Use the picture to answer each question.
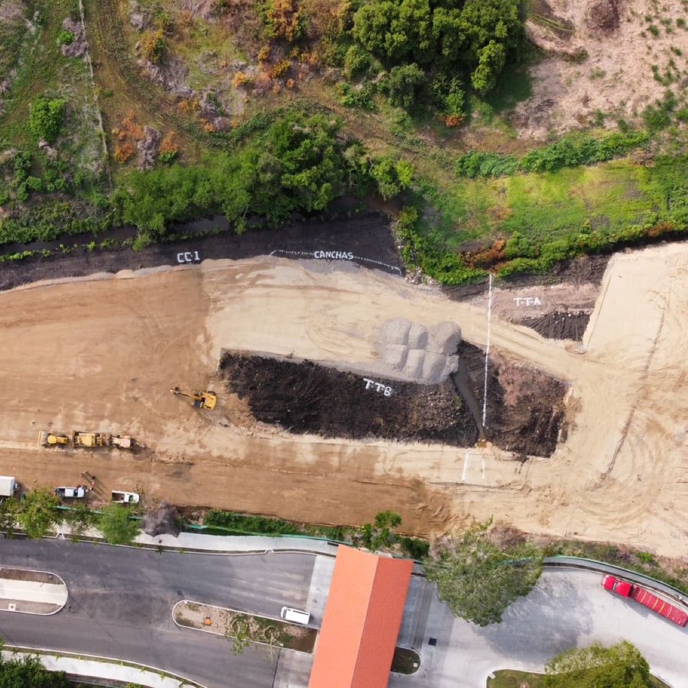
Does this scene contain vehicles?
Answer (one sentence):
Yes, the image includes a vehicle.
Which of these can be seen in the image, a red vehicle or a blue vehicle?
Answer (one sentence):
The one in the frame is a red vehicle.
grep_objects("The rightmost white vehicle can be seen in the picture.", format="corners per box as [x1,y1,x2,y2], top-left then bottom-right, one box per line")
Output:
[280,605,310,626]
